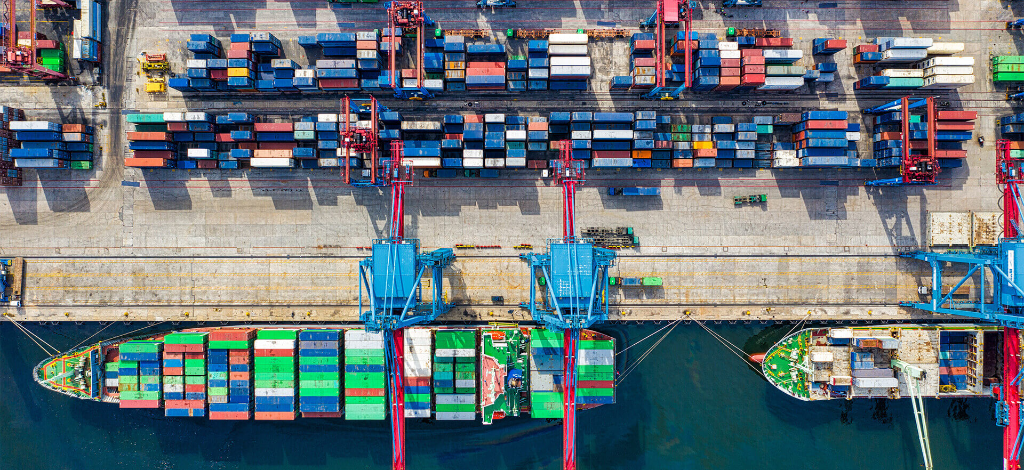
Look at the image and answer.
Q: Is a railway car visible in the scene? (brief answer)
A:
No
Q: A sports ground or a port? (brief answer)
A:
port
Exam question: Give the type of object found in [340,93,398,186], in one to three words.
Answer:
container crane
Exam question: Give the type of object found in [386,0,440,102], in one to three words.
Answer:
container crane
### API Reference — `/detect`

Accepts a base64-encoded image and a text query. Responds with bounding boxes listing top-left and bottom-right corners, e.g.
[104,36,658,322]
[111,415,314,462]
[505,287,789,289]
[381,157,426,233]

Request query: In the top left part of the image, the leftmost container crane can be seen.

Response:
[4,0,82,80]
